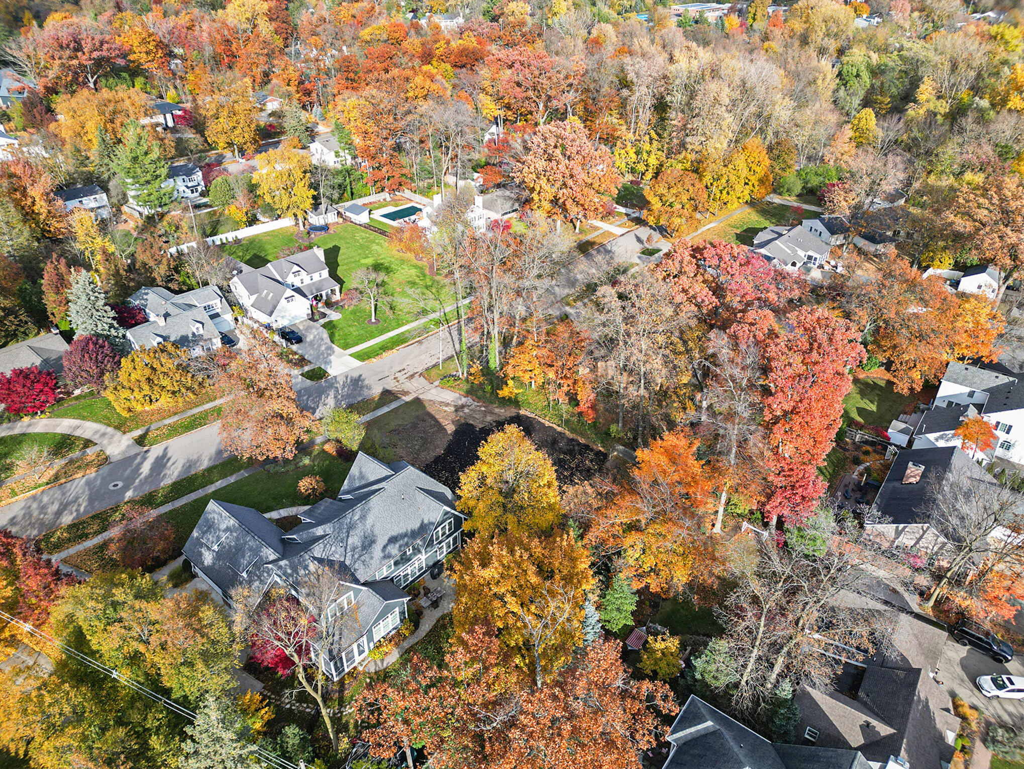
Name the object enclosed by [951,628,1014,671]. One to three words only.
car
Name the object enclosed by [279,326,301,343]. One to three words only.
car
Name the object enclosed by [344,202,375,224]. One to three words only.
shed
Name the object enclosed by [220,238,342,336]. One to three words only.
house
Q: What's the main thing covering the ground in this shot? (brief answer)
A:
trees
